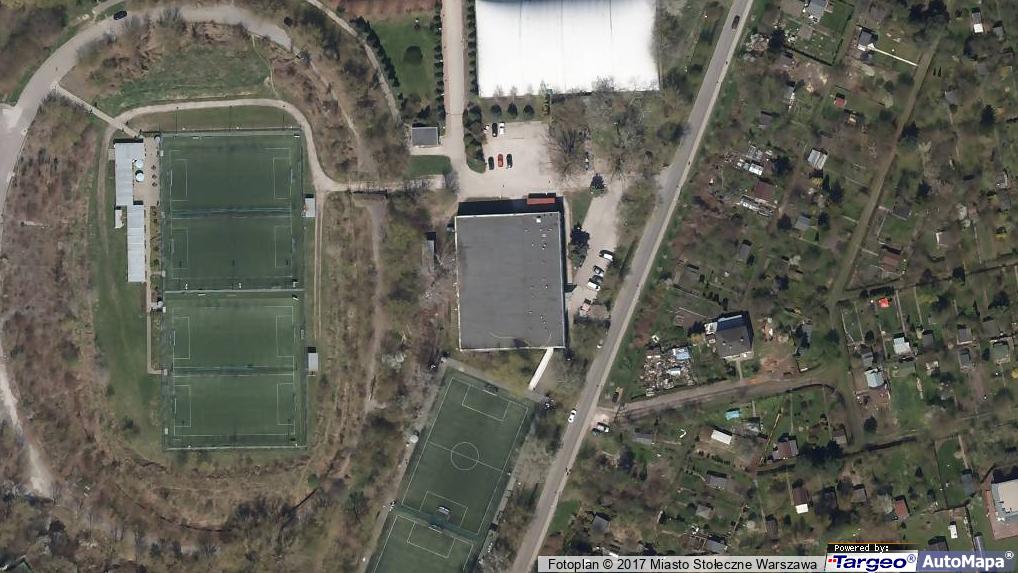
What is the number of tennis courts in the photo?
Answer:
0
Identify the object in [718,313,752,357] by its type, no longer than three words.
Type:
house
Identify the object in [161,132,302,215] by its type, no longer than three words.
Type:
soccer field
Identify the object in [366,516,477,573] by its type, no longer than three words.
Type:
soccer field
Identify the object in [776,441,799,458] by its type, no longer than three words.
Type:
shed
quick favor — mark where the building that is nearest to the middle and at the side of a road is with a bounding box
[455,212,568,350]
